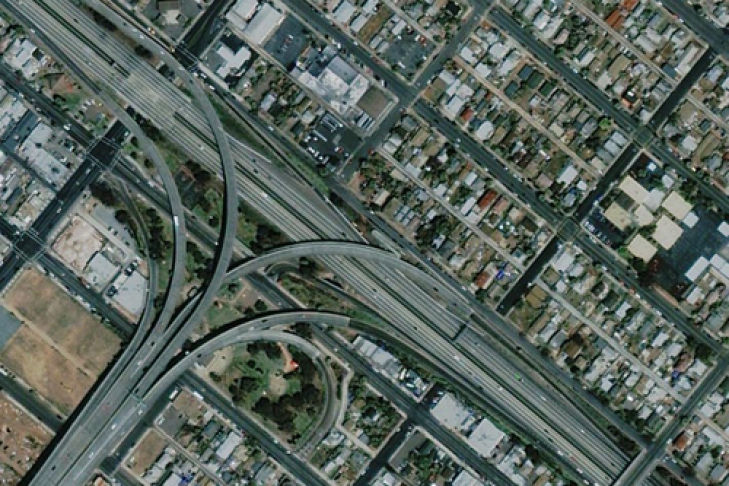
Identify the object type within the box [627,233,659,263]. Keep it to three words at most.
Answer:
building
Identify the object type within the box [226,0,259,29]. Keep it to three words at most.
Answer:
building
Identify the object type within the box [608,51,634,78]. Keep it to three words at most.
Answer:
house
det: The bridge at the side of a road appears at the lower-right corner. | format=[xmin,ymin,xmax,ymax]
[609,416,687,486]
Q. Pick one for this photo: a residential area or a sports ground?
residential area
